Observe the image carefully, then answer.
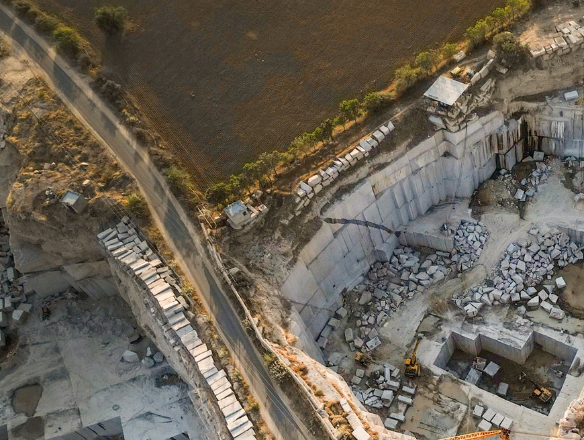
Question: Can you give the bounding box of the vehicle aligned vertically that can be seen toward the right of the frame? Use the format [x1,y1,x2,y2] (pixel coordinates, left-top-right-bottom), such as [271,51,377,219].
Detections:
[403,338,425,380]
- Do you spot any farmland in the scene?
Yes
